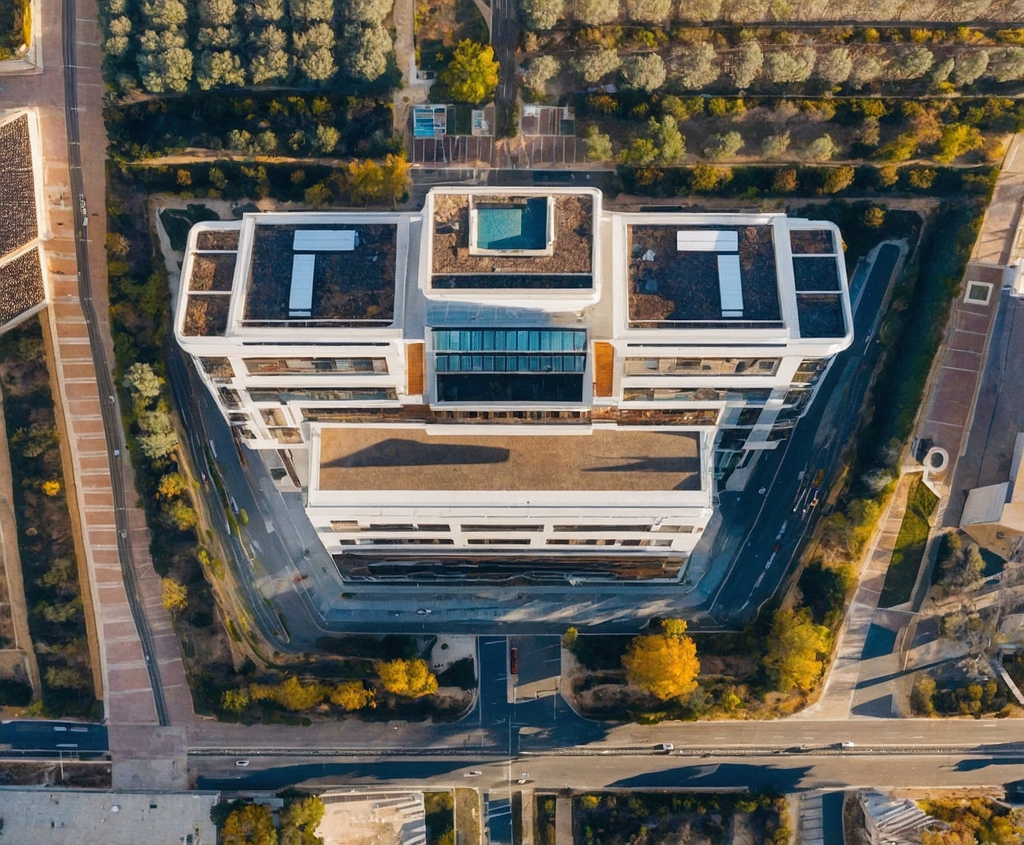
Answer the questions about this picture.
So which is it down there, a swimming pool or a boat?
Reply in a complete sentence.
There is a swimming pool in the scene.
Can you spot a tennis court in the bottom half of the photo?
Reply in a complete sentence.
No, in the bottom half of the photo there is no tennis court.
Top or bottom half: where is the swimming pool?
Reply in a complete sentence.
The swimming pool sits in the top half of the picture.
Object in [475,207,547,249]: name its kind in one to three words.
swimming pool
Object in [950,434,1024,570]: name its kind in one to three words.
house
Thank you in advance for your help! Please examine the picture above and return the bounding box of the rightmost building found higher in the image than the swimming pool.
[472,109,485,140]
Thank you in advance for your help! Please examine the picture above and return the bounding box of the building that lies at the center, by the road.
[175,187,853,582]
